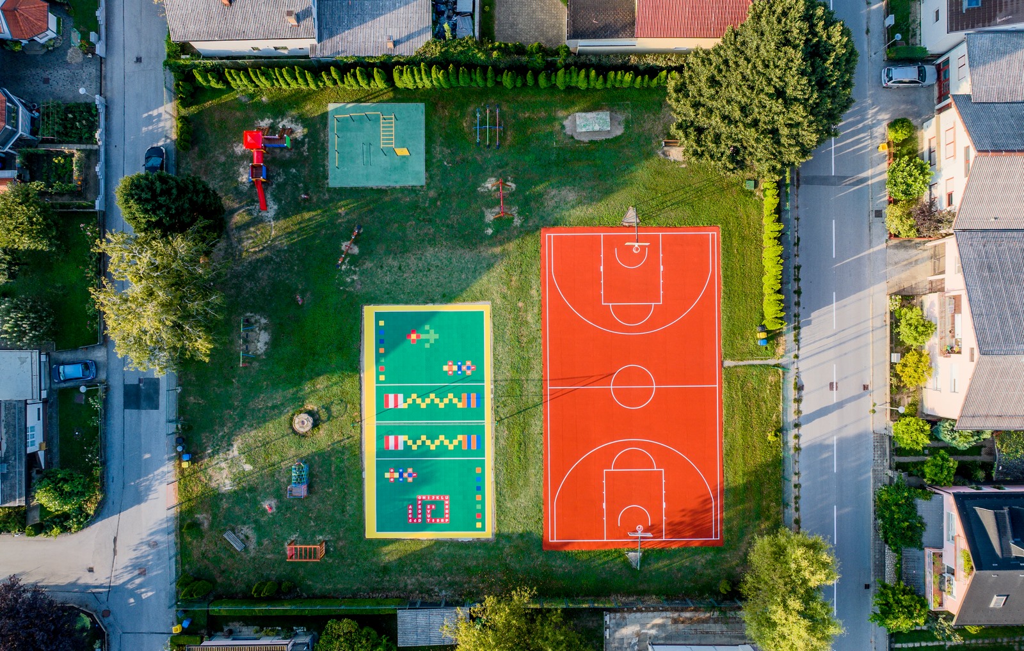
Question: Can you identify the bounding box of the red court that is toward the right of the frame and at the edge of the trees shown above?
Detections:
[541,226,723,551]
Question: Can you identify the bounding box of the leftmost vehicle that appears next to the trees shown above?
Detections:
[52,359,99,384]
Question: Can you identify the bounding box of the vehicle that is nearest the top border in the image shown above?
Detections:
[881,61,937,89]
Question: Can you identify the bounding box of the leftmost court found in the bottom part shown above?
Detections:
[360,302,496,542]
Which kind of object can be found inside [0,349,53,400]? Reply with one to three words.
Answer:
building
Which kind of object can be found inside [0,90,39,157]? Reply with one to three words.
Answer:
house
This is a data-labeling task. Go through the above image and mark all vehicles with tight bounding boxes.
[881,61,937,89]
[52,359,99,384]
[142,147,169,175]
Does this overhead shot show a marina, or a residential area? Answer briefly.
residential area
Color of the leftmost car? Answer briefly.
blue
